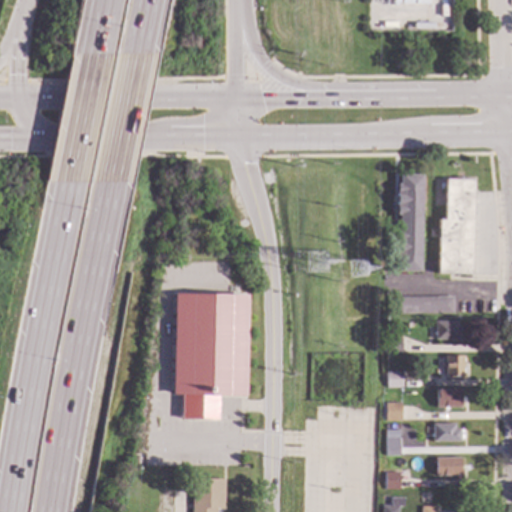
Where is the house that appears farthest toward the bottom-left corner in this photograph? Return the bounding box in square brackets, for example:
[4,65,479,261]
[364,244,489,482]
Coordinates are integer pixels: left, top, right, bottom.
[194,478,225,512]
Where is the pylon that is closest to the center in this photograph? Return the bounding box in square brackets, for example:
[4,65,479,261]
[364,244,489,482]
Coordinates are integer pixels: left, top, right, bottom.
[307,250,348,274]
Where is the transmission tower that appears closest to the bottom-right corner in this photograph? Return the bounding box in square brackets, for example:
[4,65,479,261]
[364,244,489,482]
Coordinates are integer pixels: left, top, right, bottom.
[350,258,386,278]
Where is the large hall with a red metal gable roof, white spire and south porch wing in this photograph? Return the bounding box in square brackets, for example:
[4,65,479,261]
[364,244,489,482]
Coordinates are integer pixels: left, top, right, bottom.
[175,293,252,419]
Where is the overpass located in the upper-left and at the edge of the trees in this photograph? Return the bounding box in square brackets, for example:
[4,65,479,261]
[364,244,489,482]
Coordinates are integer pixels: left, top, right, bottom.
[47,54,162,182]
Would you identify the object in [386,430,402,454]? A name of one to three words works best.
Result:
building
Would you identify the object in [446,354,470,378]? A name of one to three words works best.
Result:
house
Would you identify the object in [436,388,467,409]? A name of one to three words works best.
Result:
house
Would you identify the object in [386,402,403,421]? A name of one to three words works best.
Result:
building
